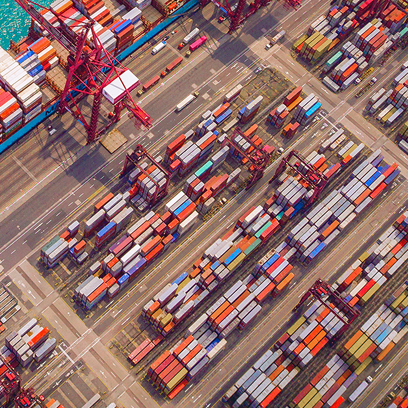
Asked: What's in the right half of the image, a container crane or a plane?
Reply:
container crane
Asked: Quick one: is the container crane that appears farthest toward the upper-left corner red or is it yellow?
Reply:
red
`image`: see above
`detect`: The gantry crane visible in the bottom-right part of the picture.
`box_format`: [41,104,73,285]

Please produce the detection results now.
[296,275,364,343]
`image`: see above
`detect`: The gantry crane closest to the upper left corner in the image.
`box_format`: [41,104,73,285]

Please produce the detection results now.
[10,0,154,146]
